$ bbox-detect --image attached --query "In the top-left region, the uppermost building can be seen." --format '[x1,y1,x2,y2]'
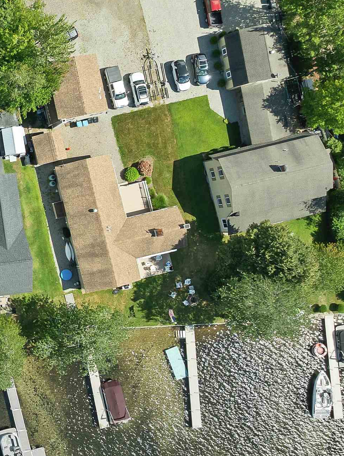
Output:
[46,53,109,125]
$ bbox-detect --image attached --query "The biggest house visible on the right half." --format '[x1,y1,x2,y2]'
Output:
[200,79,339,235]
